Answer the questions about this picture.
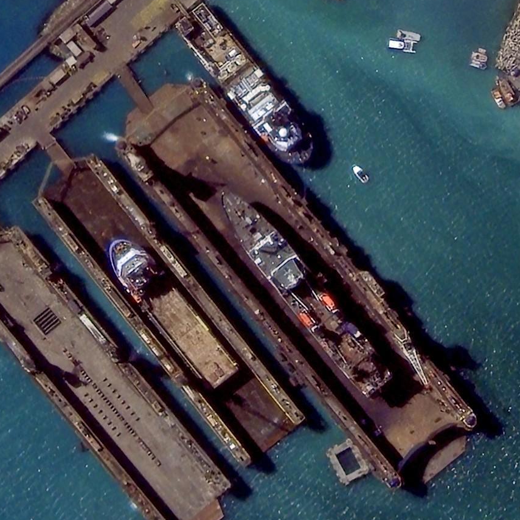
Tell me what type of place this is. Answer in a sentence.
The area seen from above is a port.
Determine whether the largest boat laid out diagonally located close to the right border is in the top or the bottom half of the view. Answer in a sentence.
The largest boat laid out diagonally located close to the right border is in the top half of the image.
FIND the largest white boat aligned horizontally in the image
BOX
[388,39,416,54]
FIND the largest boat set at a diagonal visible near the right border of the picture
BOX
[496,79,519,105]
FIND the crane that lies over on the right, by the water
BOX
[388,318,429,387]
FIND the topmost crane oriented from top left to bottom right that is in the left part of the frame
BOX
[125,152,160,186]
